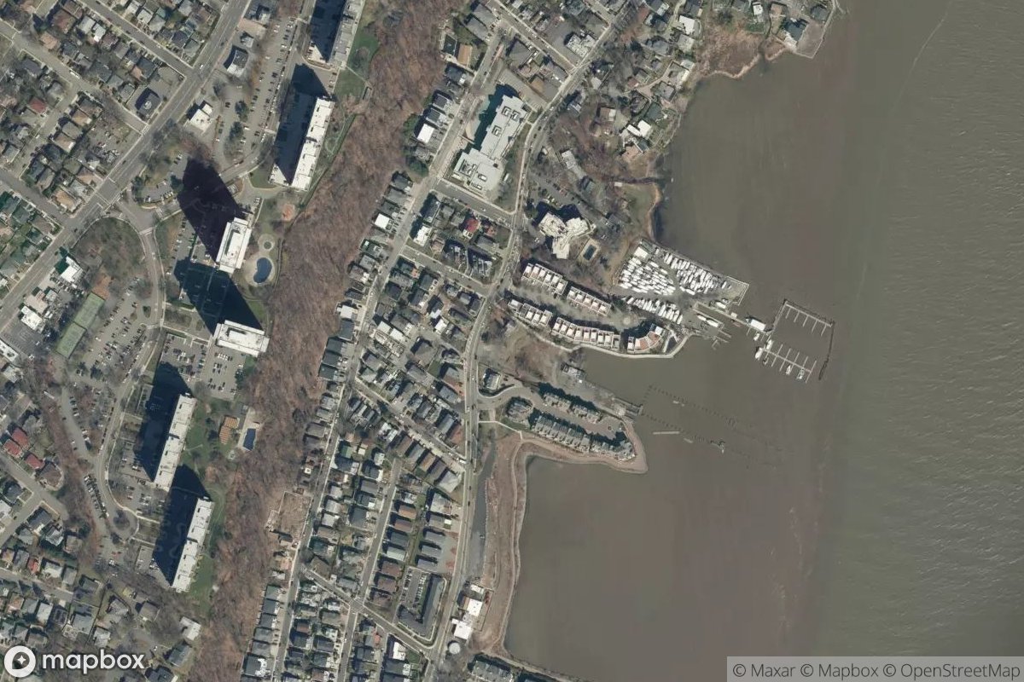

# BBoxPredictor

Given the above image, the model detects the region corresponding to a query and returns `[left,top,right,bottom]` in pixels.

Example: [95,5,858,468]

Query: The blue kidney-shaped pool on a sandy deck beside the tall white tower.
[245,251,275,286]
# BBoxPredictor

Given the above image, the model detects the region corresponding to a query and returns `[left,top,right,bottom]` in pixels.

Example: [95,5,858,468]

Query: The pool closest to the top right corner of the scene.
[578,240,600,265]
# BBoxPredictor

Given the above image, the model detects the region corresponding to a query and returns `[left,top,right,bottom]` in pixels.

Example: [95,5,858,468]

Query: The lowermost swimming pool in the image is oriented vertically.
[237,408,263,452]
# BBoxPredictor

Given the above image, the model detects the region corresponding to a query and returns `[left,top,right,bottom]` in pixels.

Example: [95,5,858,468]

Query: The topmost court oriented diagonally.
[74,293,105,330]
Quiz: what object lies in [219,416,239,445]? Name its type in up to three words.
building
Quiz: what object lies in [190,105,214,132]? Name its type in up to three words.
building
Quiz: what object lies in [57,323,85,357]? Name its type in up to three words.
sports court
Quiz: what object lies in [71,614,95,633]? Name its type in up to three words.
house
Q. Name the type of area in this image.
residential area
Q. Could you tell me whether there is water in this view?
Yes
